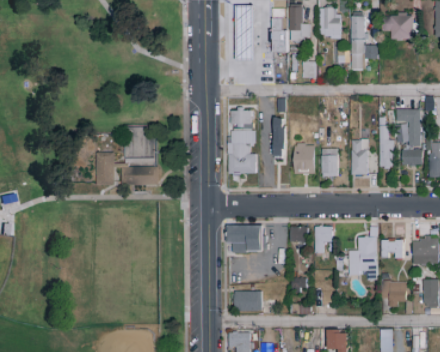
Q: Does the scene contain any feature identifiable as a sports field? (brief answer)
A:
Yes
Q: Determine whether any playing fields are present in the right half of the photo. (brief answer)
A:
No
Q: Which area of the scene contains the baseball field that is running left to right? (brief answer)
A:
bottom left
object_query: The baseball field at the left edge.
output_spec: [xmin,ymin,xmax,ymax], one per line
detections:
[0,316,160,352]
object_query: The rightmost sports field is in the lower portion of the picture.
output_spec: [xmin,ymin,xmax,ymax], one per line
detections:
[92,202,159,324]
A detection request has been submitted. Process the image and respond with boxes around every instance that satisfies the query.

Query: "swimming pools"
[352,278,366,298]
